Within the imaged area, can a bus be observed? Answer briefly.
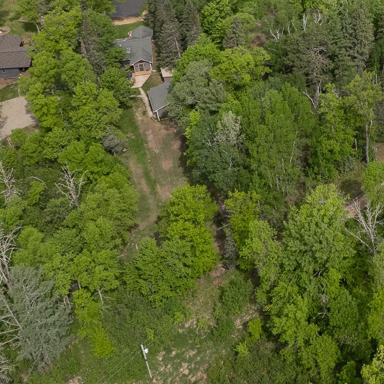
No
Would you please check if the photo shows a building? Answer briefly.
Yes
